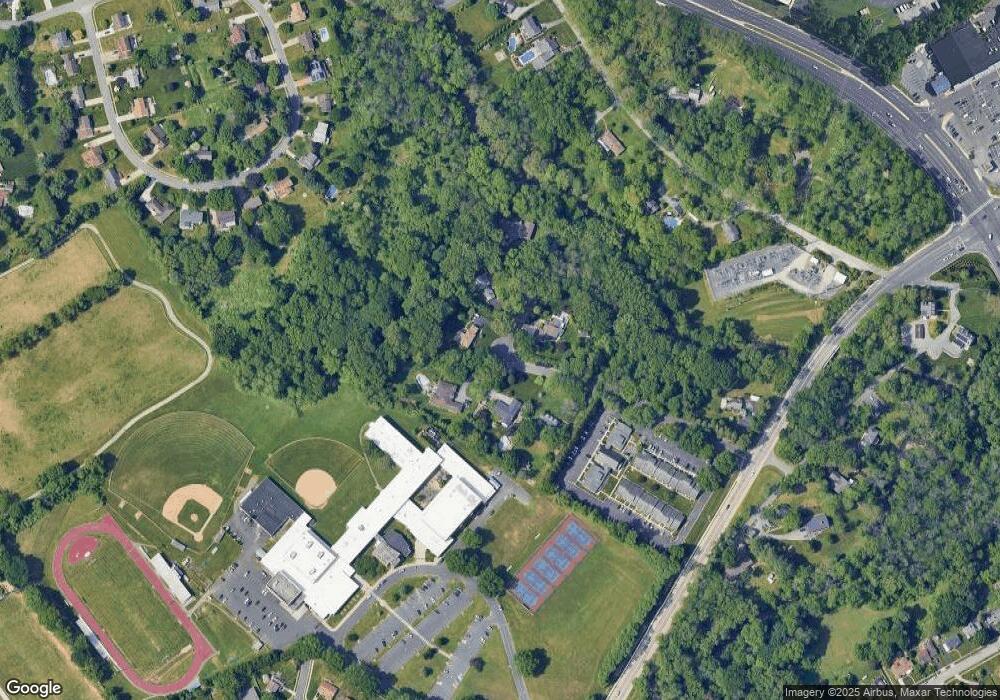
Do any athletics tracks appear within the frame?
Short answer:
Yes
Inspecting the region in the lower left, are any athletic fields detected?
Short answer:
Yes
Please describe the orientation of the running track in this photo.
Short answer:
on a diagonal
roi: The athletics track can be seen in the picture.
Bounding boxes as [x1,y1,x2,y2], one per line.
[51,509,223,699]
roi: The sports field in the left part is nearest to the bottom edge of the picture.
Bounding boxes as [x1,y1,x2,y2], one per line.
[61,532,201,690]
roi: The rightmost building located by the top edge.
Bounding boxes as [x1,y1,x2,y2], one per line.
[932,21,1000,95]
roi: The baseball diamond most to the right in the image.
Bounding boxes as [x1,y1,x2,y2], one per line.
[266,437,363,510]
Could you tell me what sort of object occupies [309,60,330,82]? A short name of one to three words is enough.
house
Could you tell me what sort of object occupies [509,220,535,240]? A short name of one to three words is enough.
house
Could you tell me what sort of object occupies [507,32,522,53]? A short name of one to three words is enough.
swimming pool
